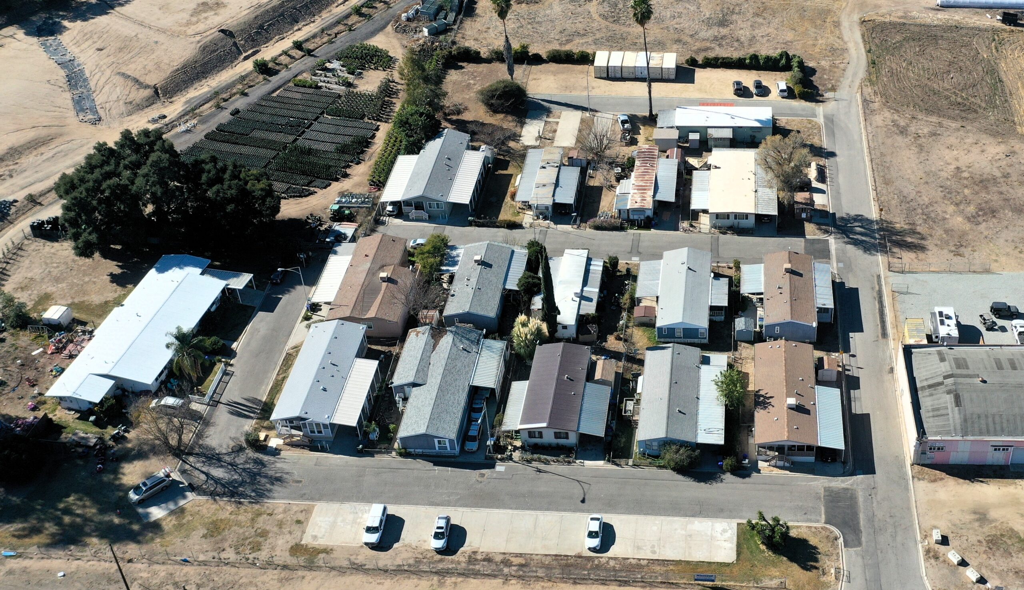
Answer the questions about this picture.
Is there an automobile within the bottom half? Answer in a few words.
Yes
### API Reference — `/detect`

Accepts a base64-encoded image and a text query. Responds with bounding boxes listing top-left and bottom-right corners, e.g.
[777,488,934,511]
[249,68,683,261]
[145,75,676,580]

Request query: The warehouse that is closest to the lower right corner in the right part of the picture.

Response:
[899,344,1024,469]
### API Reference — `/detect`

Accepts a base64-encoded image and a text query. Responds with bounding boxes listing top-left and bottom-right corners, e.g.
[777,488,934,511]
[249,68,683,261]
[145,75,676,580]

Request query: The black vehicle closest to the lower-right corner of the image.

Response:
[820,447,838,469]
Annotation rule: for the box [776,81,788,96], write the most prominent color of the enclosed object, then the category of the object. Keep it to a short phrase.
white vehicle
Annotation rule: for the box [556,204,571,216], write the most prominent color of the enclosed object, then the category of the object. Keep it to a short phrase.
black vehicle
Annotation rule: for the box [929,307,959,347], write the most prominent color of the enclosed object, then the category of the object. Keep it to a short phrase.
white vehicle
